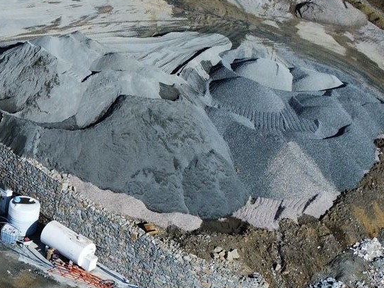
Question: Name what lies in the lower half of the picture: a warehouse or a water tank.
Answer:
water tank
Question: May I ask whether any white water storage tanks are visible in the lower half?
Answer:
Yes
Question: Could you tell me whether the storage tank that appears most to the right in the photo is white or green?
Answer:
white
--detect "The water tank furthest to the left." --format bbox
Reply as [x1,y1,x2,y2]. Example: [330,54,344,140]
[8,196,39,238]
